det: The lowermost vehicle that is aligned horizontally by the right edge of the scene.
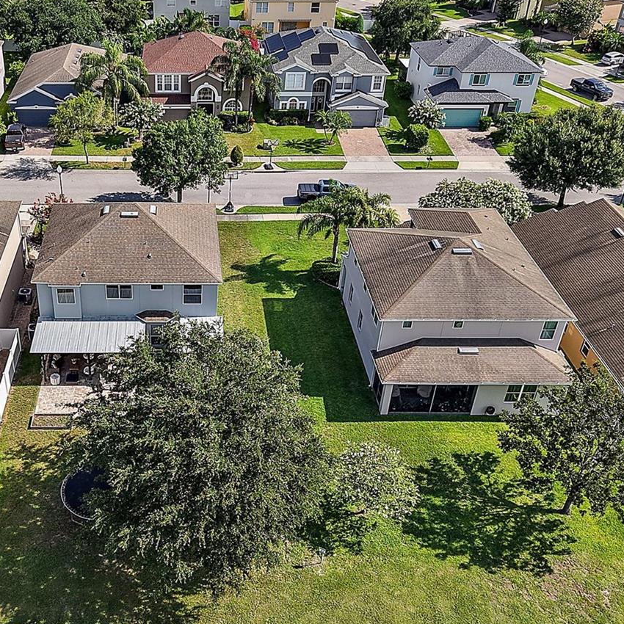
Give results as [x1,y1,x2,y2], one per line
[567,73,615,95]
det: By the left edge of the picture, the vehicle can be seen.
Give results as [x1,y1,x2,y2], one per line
[0,125,28,150]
